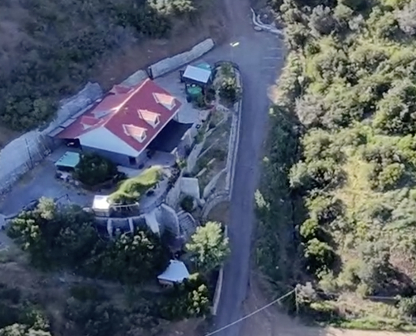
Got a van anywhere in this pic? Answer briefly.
No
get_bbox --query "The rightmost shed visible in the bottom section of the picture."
[162,260,189,288]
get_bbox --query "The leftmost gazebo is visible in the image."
[55,151,81,176]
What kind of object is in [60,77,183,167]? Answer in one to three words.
house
